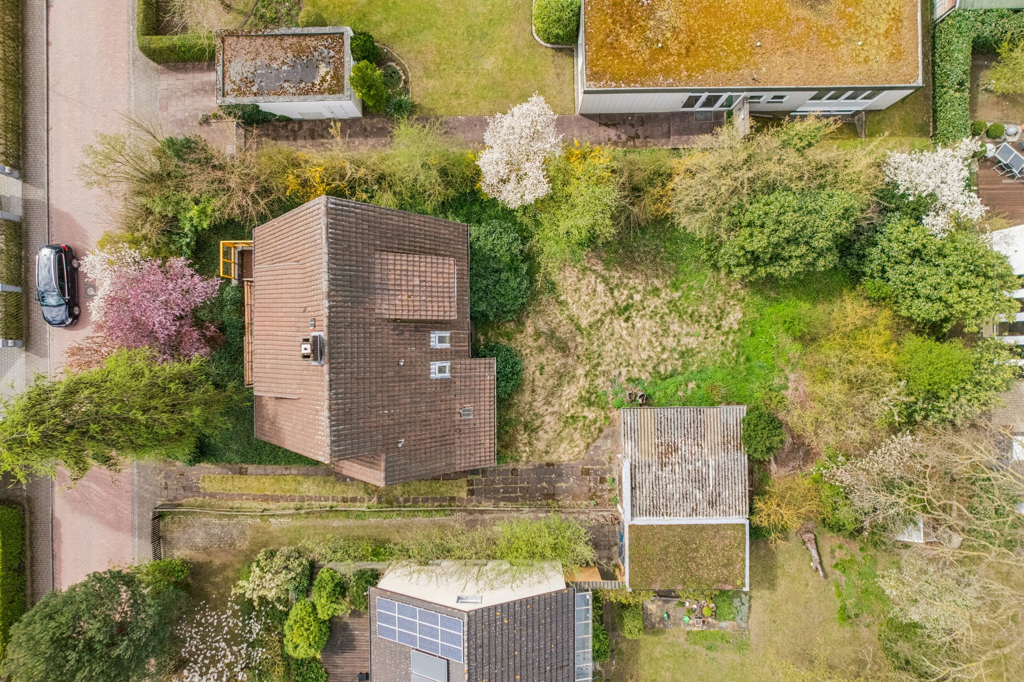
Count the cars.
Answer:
one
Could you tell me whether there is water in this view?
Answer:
No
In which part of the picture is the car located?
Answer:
left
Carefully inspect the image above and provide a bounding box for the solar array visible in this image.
[376,598,463,662]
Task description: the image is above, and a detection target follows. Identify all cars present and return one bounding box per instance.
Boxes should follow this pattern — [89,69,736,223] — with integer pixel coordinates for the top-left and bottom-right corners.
[33,244,84,327]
